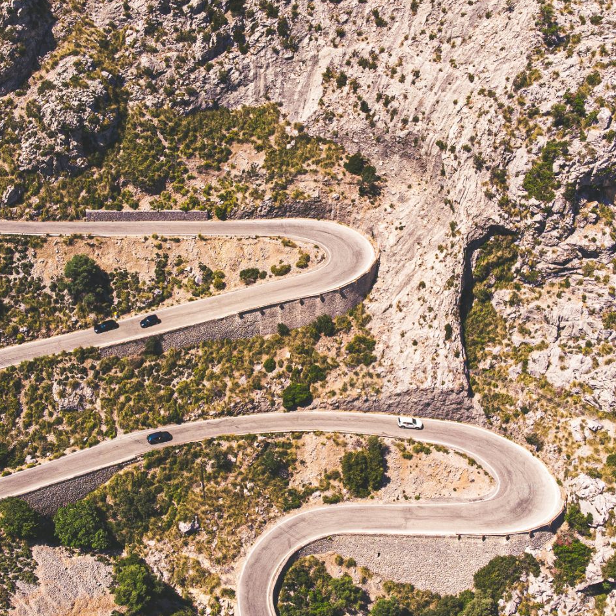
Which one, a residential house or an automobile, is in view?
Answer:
automobile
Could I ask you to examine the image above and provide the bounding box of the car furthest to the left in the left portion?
[93,320,119,336]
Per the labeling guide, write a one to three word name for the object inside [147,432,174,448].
car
